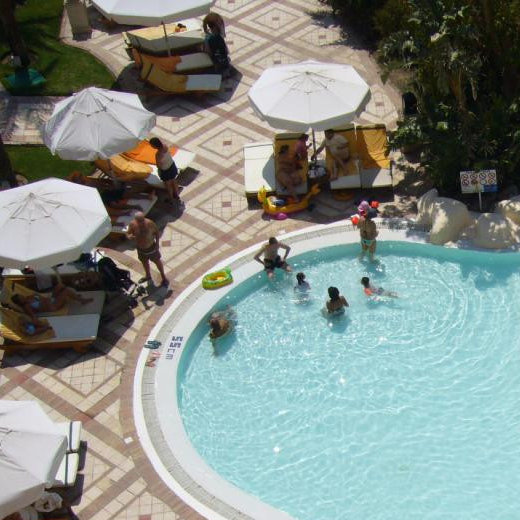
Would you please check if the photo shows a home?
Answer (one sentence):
No, there appears to be no home in this shot.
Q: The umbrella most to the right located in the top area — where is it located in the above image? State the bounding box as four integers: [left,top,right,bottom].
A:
[247,58,374,167]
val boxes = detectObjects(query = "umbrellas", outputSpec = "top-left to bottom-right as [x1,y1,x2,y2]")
[0,404,63,520]
[106,0,218,59]
[41,66,162,169]
[0,170,114,293]
[247,58,374,167]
